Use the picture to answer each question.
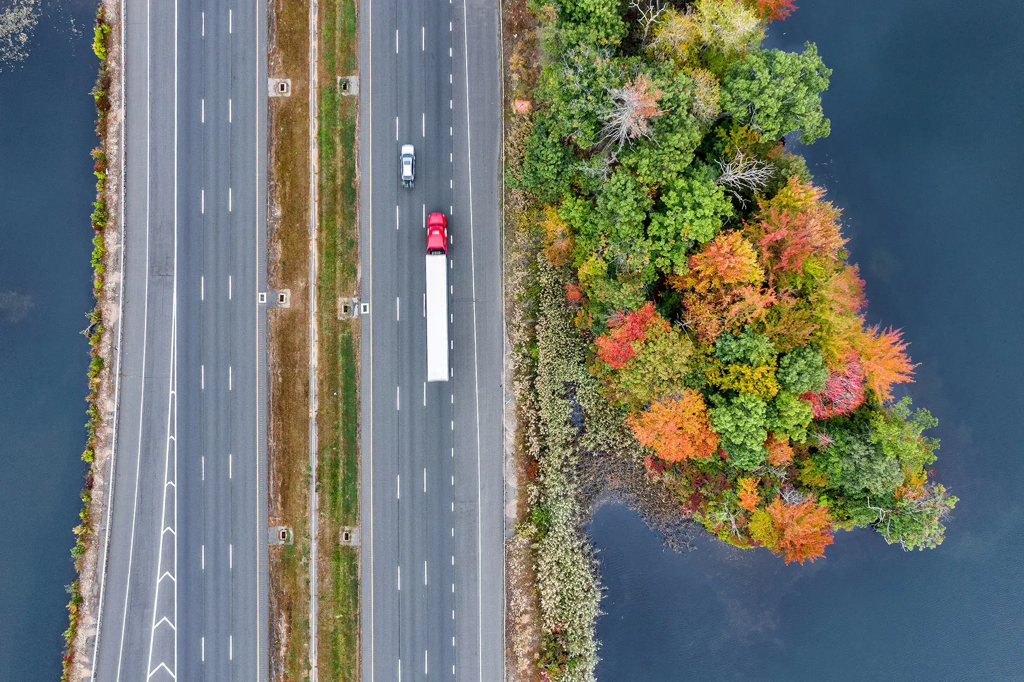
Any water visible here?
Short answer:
Yes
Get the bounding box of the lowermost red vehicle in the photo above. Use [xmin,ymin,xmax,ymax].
[428,213,449,255]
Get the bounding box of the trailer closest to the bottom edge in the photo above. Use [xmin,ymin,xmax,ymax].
[427,255,450,382]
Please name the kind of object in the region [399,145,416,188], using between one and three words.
car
